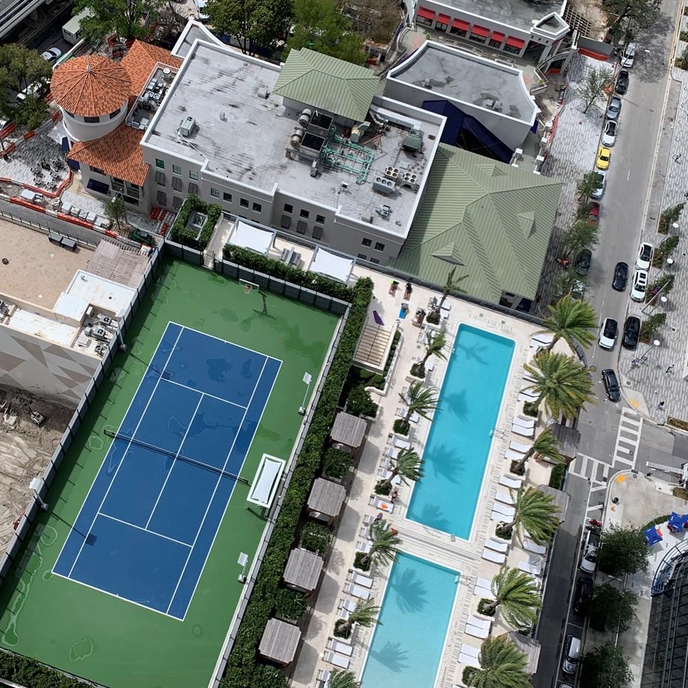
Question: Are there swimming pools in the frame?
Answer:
Yes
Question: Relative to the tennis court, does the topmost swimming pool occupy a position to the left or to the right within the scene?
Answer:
right of it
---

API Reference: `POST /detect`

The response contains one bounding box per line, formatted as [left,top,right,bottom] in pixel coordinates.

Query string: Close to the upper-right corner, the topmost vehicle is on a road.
[620,41,639,67]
